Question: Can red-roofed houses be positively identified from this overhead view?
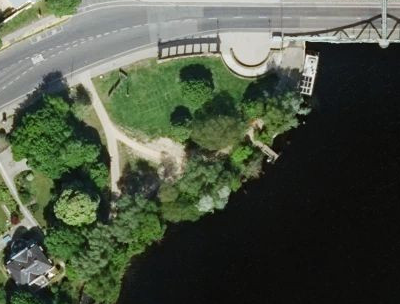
No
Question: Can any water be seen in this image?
Yes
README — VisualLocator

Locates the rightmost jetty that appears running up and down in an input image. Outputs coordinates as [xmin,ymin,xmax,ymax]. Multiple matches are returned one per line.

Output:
[300,54,319,95]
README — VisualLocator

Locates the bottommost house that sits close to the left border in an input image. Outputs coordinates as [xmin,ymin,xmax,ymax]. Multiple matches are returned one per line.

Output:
[4,244,54,288]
